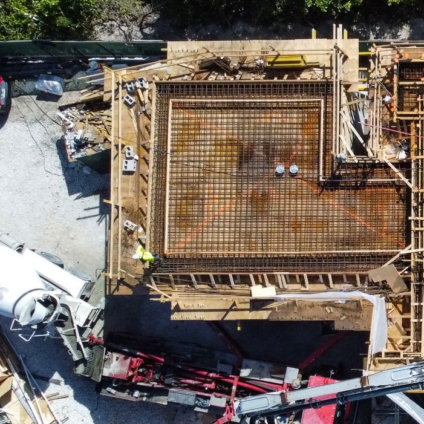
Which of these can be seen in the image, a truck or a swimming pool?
truck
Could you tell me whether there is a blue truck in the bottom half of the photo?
No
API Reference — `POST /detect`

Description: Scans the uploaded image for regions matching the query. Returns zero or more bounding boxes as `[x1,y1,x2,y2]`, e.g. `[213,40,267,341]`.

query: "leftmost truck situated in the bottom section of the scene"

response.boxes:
[0,229,108,366]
